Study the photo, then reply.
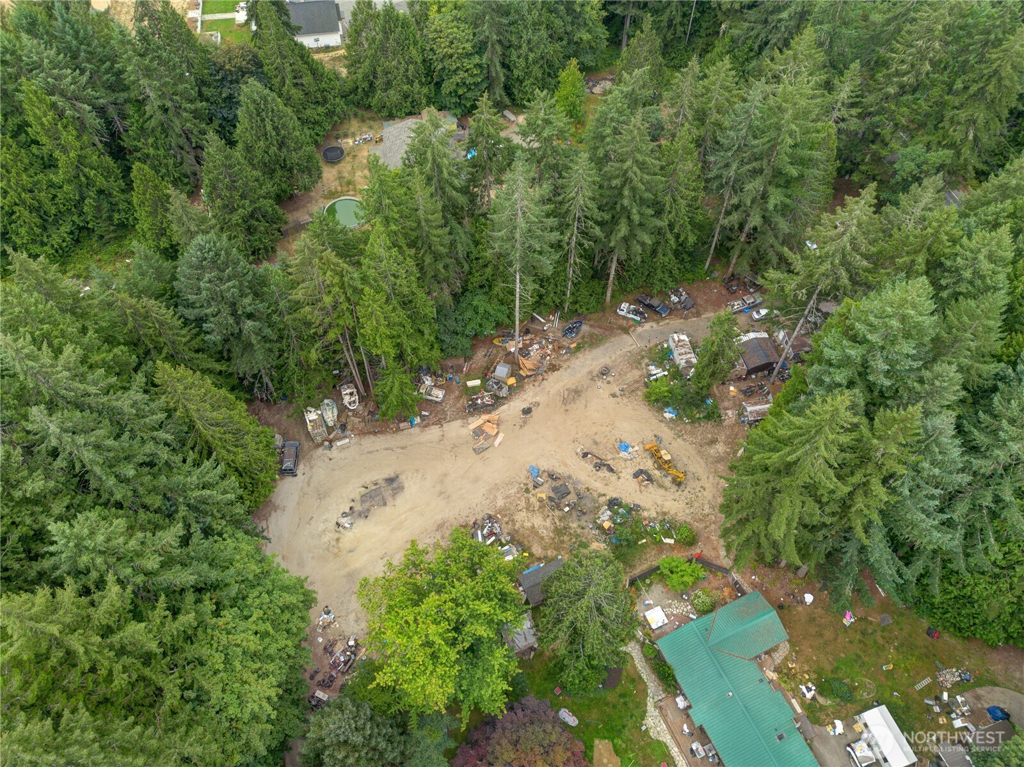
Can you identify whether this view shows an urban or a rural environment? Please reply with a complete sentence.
From above, the setting appears rural.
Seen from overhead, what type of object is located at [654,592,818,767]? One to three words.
building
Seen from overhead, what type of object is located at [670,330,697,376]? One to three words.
trailer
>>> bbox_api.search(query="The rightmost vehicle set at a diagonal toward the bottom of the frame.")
[639,441,693,490]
